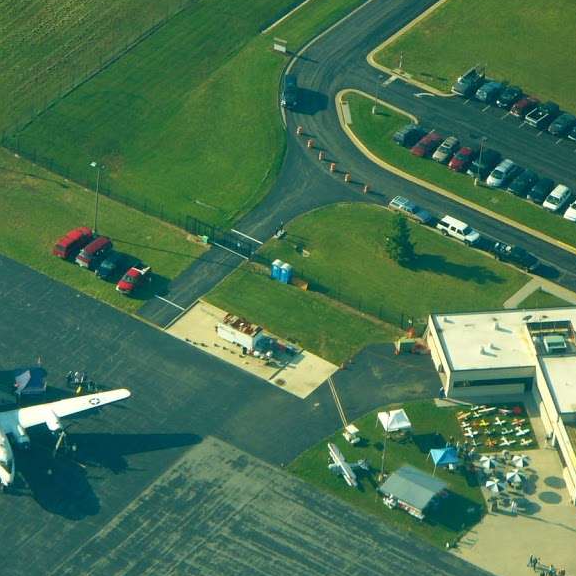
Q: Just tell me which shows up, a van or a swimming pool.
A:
van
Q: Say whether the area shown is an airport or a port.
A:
airport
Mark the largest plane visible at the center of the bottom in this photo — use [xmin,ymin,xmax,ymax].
[323,441,369,485]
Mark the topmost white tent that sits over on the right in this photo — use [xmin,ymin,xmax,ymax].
[375,409,412,437]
